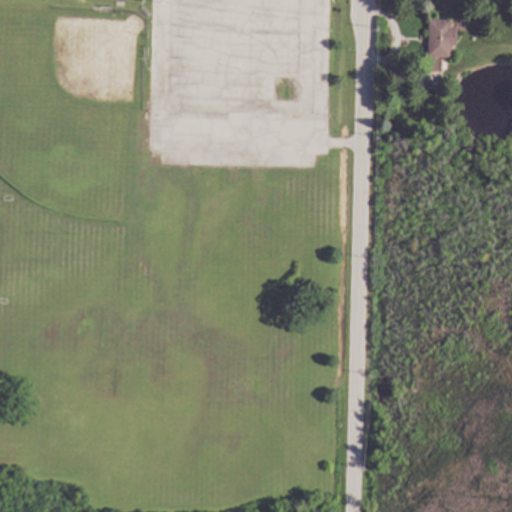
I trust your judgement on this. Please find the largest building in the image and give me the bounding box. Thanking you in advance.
[430,19,464,76]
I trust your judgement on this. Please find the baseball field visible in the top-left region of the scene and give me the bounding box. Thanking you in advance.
[0,14,145,226]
